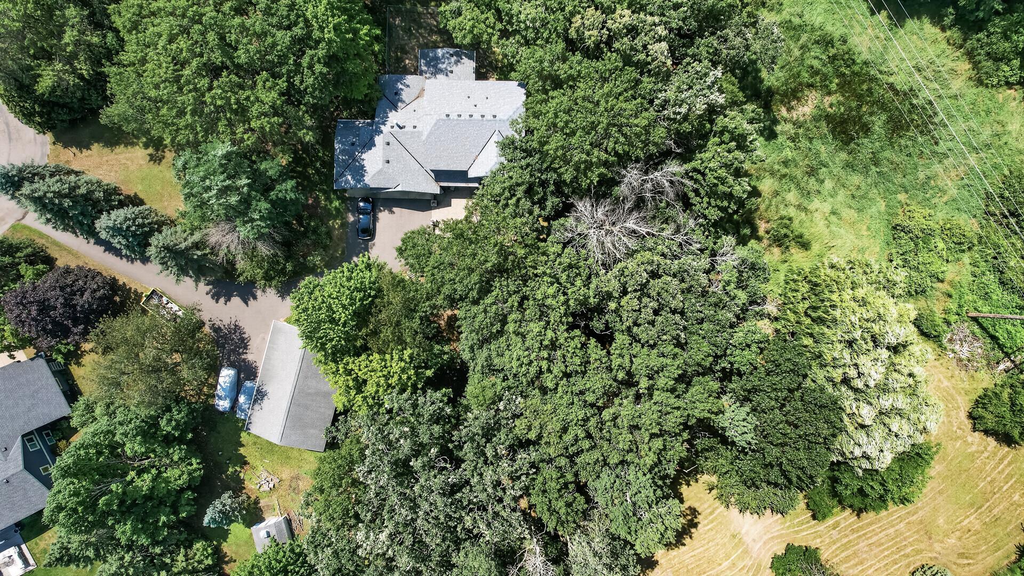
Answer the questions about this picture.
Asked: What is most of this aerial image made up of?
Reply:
trees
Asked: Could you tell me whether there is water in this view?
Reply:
No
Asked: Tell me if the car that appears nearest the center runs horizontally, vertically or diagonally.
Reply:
vertically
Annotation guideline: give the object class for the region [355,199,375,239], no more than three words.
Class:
car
